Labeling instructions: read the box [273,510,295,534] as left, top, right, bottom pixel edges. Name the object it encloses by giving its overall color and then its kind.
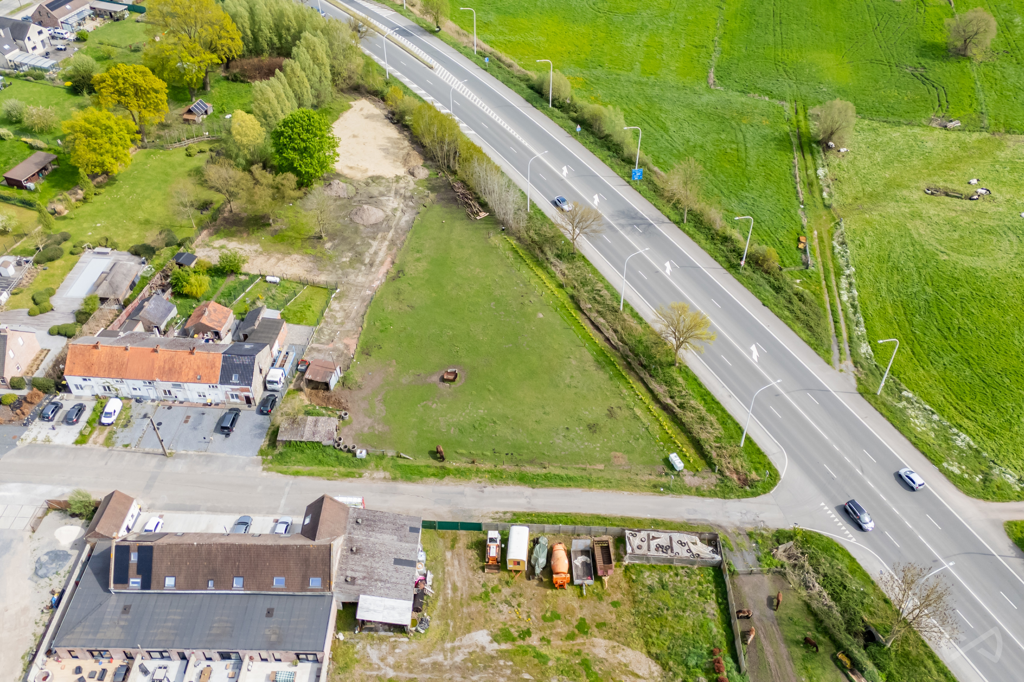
white car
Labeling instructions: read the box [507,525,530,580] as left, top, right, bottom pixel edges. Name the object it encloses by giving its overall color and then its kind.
white camper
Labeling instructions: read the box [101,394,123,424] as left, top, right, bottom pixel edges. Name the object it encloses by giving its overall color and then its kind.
white car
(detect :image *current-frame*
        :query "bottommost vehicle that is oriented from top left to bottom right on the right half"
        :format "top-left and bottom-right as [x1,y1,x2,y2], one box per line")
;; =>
[842,497,875,531]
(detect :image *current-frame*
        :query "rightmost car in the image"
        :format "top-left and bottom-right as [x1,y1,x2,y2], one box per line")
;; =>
[897,466,927,491]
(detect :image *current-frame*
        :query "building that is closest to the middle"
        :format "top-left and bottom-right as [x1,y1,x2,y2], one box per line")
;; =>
[304,359,339,390]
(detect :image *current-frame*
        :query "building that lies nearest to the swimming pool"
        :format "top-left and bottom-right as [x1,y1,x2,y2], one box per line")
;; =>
[95,261,138,308]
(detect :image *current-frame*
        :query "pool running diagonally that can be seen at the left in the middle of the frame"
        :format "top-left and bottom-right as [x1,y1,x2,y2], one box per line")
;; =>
[62,256,114,299]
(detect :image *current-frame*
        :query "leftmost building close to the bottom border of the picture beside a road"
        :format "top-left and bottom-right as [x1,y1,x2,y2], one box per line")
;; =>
[50,528,342,663]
